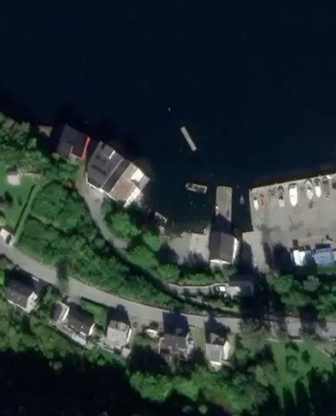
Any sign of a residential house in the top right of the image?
No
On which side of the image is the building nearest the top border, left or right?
left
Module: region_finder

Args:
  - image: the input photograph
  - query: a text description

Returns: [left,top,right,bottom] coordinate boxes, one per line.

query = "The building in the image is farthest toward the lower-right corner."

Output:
[203,336,228,364]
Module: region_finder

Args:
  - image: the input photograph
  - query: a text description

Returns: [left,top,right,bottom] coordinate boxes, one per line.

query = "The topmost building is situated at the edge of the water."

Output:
[59,124,92,159]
